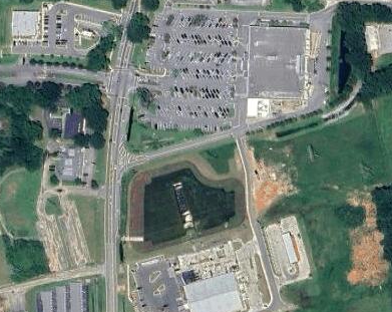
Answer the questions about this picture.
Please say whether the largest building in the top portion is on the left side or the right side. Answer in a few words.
right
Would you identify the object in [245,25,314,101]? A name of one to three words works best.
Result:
building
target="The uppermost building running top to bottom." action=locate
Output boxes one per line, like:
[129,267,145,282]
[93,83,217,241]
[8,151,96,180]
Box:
[366,26,381,58]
